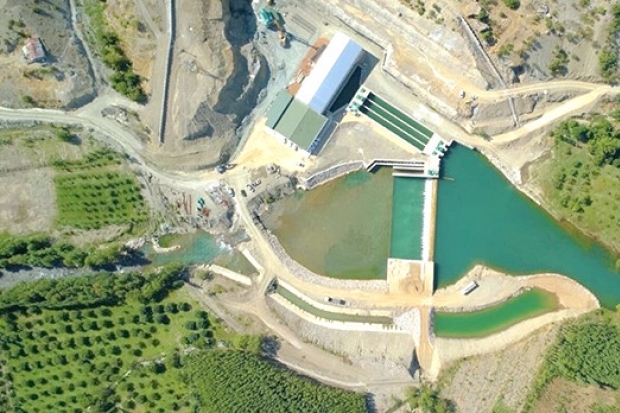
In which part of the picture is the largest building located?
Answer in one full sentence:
The largest building is in the top part of the image.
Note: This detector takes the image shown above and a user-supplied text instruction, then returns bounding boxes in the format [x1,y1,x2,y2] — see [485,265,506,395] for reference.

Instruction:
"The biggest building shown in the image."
[275,33,363,154]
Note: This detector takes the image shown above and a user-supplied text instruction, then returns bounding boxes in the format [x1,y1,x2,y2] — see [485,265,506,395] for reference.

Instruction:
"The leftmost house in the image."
[27,36,51,65]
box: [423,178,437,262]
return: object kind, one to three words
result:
dam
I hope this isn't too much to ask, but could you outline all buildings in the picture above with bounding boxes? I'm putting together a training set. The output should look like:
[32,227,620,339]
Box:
[275,33,363,154]
[27,36,51,65]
